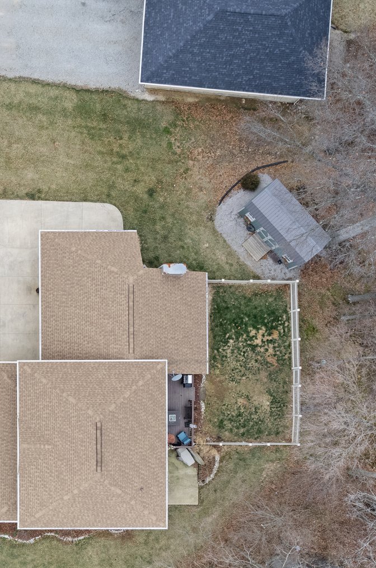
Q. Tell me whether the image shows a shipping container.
No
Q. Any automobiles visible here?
No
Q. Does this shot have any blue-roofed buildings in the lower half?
No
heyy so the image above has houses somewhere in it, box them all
[138,0,333,108]
[0,229,208,530]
